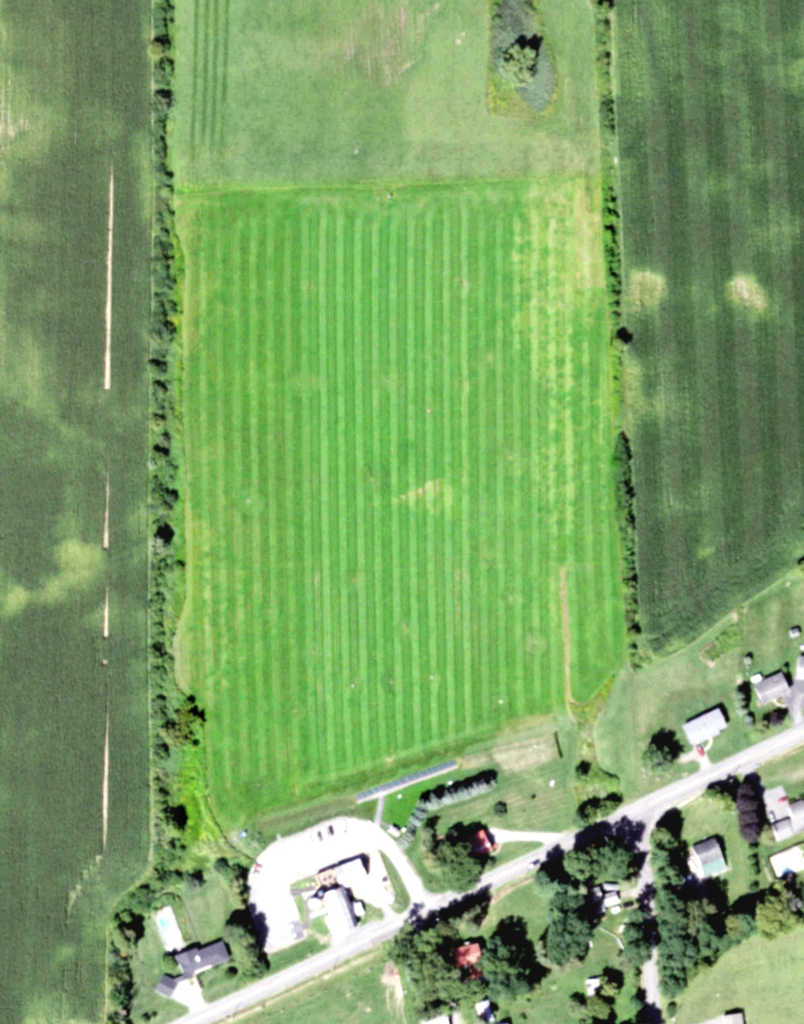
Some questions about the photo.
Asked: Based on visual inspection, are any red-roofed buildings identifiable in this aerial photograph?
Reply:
Yes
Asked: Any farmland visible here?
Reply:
Yes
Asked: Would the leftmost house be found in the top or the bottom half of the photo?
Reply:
bottom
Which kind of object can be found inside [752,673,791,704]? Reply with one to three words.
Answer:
house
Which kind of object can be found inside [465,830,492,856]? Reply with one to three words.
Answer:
house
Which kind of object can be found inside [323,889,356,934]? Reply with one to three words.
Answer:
barn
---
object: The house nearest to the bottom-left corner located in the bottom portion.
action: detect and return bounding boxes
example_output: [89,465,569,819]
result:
[156,939,227,998]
